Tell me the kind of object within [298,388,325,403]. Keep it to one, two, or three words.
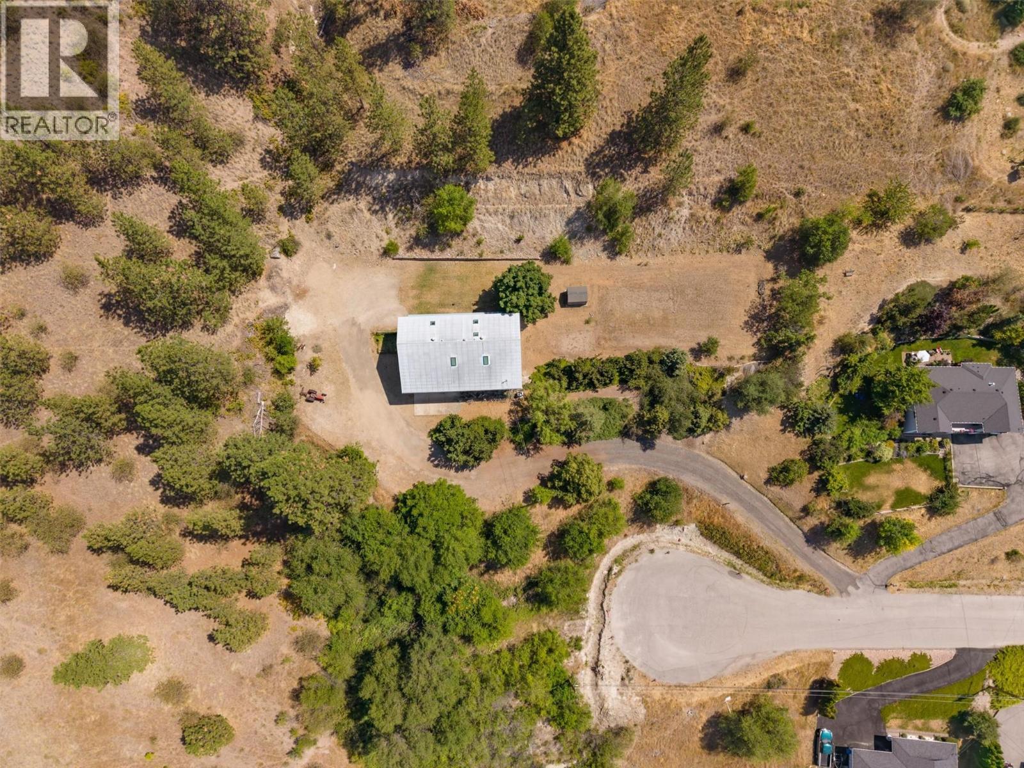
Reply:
work vehicle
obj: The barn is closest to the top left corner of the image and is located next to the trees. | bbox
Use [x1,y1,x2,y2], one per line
[396,311,522,394]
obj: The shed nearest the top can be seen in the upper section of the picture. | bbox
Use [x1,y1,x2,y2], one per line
[565,287,588,310]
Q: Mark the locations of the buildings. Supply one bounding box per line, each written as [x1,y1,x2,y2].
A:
[396,311,522,394]
[845,732,959,768]
[906,362,1024,433]
[565,287,588,310]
